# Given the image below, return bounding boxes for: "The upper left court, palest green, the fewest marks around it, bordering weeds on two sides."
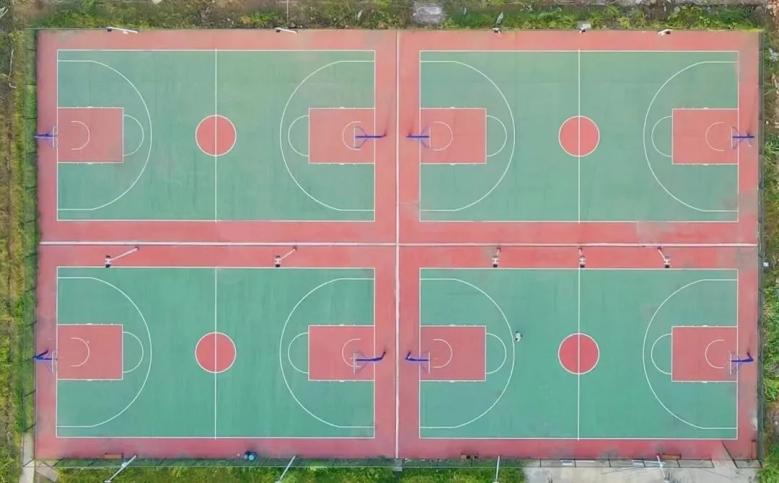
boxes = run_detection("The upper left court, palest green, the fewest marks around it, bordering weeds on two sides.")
[37,30,396,243]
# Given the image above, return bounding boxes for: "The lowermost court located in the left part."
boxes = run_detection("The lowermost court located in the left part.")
[37,245,396,459]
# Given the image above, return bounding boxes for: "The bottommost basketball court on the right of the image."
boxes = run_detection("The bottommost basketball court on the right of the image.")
[399,246,758,459]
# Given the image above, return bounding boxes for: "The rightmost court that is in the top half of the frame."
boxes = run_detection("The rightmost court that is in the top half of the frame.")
[399,30,758,244]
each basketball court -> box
[399,30,758,244]
[37,245,396,459]
[399,246,758,459]
[37,30,396,243]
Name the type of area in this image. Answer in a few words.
sports ground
